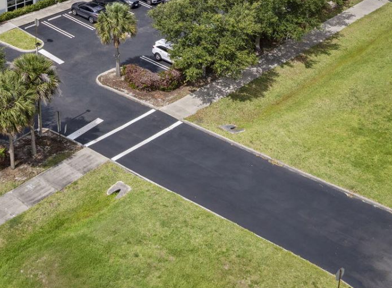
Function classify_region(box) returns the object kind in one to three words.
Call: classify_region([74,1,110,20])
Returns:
car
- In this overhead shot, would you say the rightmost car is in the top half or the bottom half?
top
